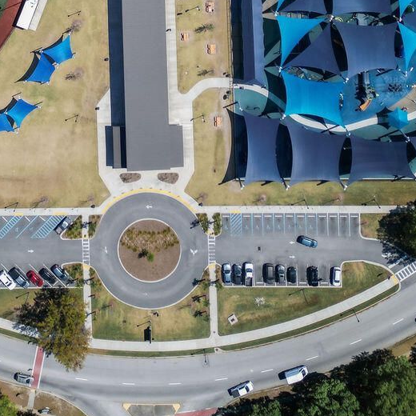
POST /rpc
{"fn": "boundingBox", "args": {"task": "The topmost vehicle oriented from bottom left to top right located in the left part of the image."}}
[52,212,75,237]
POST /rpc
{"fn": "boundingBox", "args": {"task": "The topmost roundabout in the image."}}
[91,198,207,311]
